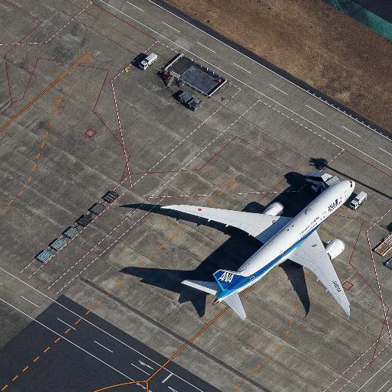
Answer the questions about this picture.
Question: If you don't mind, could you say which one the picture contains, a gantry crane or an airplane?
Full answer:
There is an airplane in the scene.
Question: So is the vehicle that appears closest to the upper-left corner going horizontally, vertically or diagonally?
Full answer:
What the image shows is the vehicle that appears closest to the upper-left corner lying diagonally.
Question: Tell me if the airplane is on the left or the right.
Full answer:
The airplane sits on the right side.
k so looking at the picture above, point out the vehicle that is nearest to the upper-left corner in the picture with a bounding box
[138,48,158,70]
